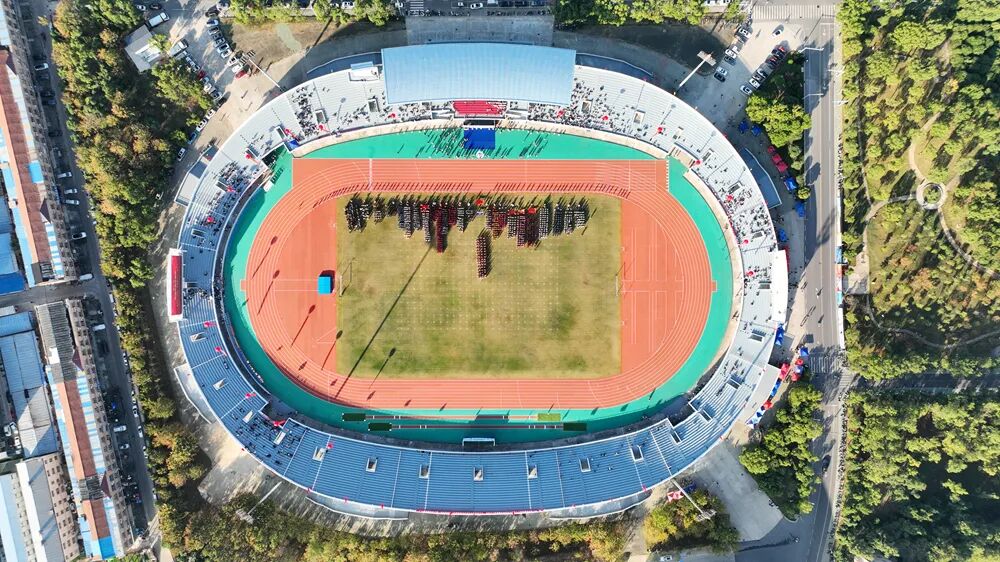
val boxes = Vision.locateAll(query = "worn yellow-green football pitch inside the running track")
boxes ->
[338,192,621,378]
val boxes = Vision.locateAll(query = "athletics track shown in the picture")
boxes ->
[224,130,732,442]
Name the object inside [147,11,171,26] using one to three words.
vehicle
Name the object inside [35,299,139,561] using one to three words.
building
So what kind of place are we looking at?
sports ground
